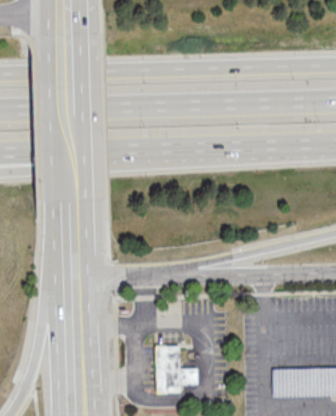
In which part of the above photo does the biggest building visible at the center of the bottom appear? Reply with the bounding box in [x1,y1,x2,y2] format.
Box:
[156,345,199,395]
